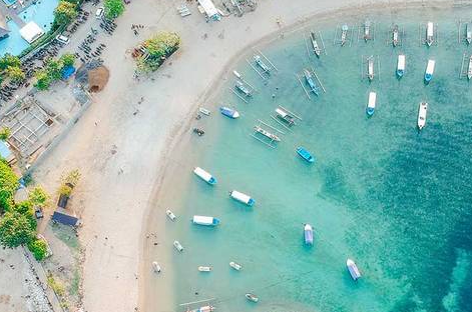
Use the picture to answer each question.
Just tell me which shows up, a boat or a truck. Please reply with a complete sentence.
I can see a boat in this picture.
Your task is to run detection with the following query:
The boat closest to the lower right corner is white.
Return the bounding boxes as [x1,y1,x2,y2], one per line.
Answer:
[349,259,362,281]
